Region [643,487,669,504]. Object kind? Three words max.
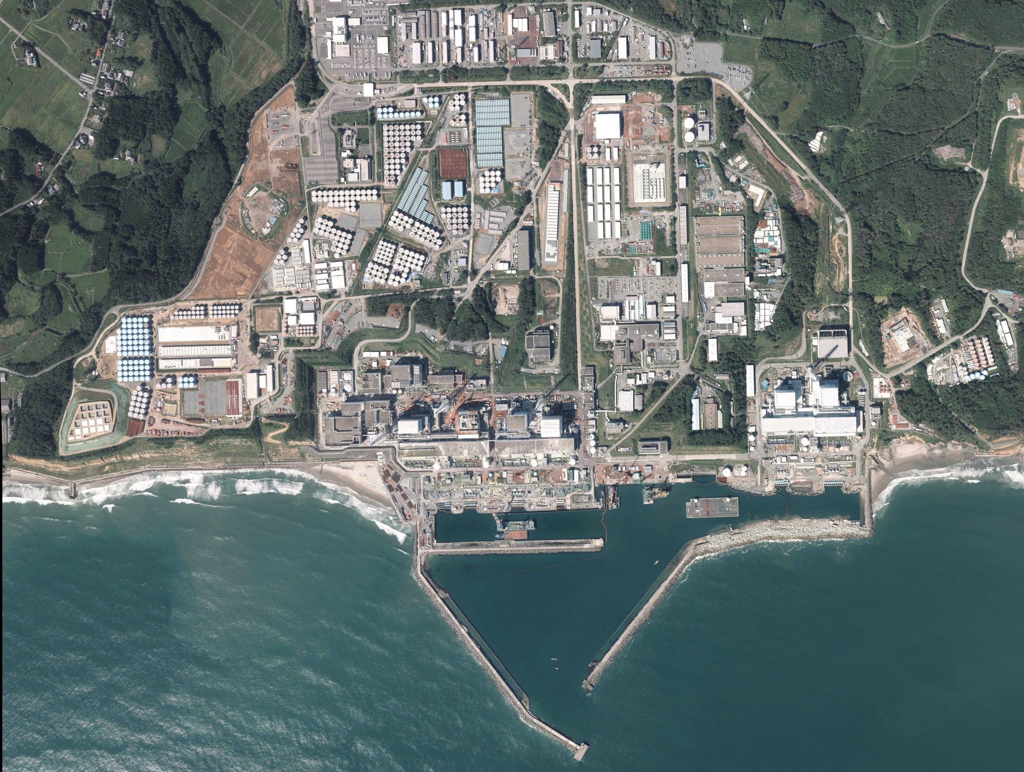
ship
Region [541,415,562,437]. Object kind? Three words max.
building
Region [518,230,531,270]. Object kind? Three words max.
building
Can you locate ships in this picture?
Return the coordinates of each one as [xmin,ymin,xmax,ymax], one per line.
[609,485,618,509]
[503,520,535,531]
[504,530,528,539]
[599,486,605,510]
[643,487,669,504]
